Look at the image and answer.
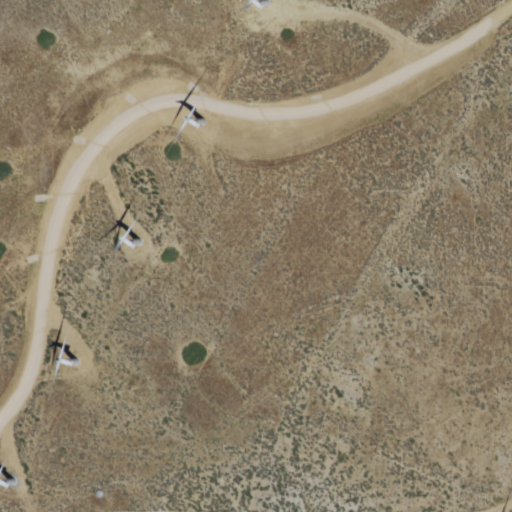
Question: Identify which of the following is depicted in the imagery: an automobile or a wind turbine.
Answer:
wind turbine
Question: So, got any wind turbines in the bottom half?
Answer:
Yes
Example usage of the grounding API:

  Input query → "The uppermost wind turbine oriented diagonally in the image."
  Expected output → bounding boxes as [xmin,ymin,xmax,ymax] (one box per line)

[173,87,208,144]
